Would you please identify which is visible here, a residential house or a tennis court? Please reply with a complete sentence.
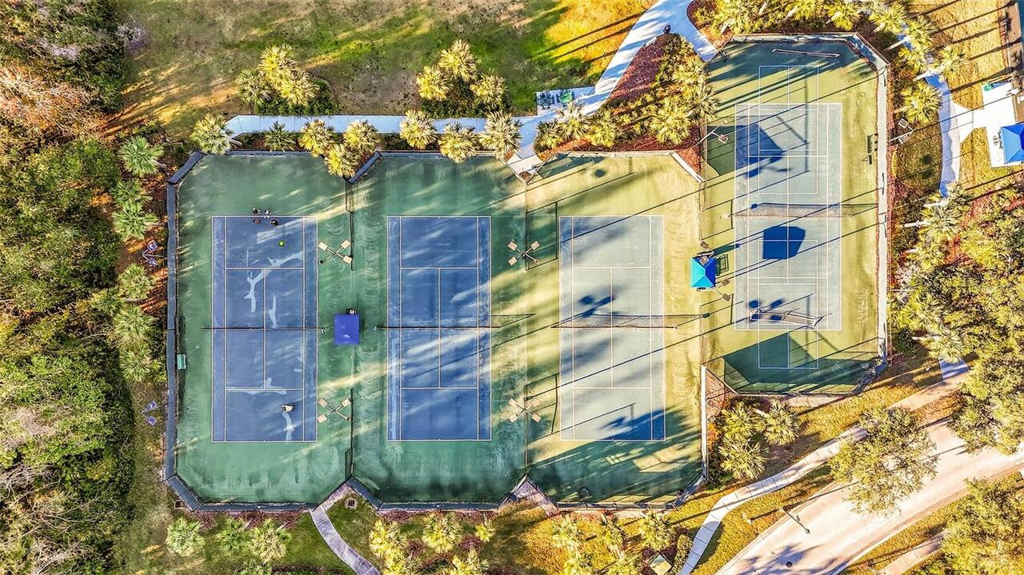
Visible in the photo is a tennis court.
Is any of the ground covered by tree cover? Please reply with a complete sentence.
Yes, tree cover can be seen from above here.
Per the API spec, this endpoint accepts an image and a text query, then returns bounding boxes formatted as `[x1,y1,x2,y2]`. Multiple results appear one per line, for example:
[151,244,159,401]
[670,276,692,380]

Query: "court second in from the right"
[526,154,703,505]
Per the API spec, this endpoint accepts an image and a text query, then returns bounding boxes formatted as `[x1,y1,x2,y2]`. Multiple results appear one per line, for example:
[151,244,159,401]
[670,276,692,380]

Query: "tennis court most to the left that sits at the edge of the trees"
[178,156,350,504]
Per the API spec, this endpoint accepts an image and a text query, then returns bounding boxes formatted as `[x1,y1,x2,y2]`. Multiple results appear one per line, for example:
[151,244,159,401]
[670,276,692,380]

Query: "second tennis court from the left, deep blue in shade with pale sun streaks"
[350,156,526,504]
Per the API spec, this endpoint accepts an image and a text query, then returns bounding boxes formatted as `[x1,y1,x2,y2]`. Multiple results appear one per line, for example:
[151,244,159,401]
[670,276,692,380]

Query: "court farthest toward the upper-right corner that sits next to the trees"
[703,41,878,394]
